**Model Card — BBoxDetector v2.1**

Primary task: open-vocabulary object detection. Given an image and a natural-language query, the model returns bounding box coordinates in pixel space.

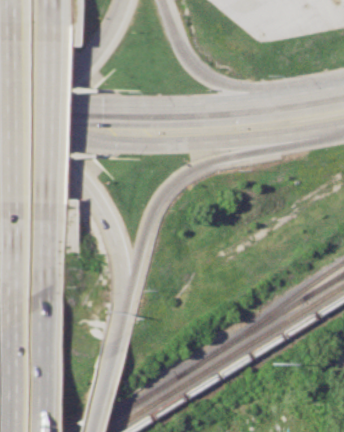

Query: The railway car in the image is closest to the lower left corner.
[124,415,160,432]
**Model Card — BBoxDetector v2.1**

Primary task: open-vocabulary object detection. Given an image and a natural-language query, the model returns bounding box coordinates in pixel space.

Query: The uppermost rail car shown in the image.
[318,296,344,318]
